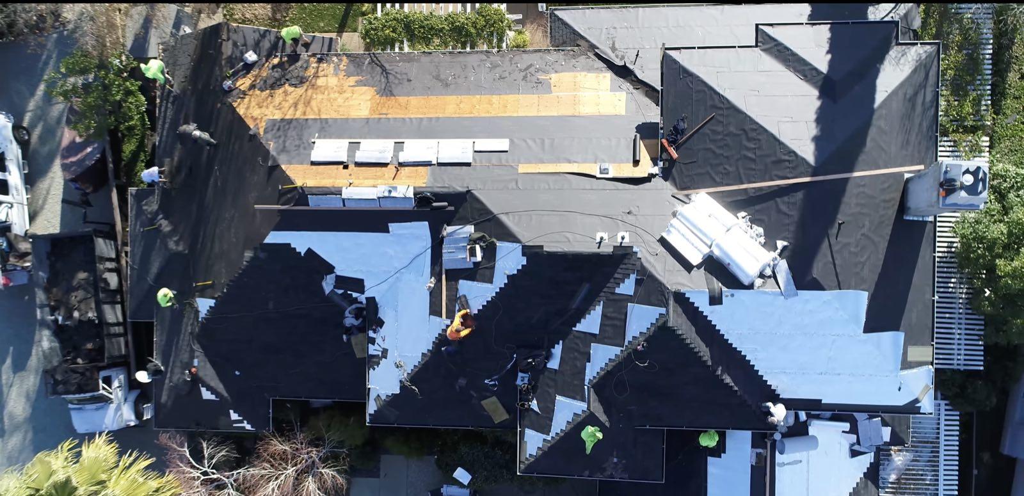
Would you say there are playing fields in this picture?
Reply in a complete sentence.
No, the photo shows no playing field.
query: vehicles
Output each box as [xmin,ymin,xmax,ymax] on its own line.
[0,112,31,285]
[22,219,149,435]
